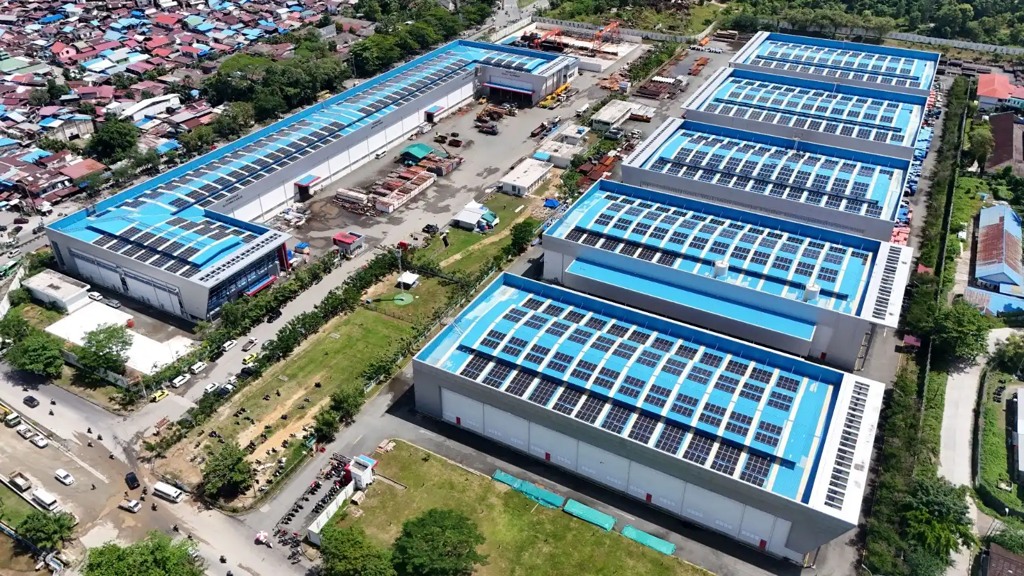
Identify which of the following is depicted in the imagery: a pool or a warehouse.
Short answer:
warehouse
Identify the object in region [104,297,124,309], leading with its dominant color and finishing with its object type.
gray vehicle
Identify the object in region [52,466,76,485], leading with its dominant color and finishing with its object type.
white car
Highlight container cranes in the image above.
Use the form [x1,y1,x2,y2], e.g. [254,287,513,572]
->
[591,8,623,50]
[532,16,565,48]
